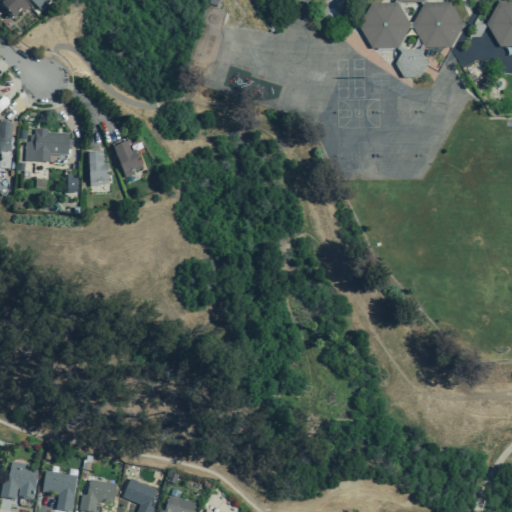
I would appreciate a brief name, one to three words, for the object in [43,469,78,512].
house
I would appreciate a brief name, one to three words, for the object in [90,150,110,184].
house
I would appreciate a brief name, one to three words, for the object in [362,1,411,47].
building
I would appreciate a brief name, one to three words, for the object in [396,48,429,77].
building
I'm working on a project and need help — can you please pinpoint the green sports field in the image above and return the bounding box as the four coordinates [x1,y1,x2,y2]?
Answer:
[347,102,512,359]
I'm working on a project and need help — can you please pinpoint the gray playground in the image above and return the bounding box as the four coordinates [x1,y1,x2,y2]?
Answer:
[205,18,475,180]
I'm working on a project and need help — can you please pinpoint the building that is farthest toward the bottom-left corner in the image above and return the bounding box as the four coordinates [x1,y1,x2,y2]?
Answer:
[0,463,38,500]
